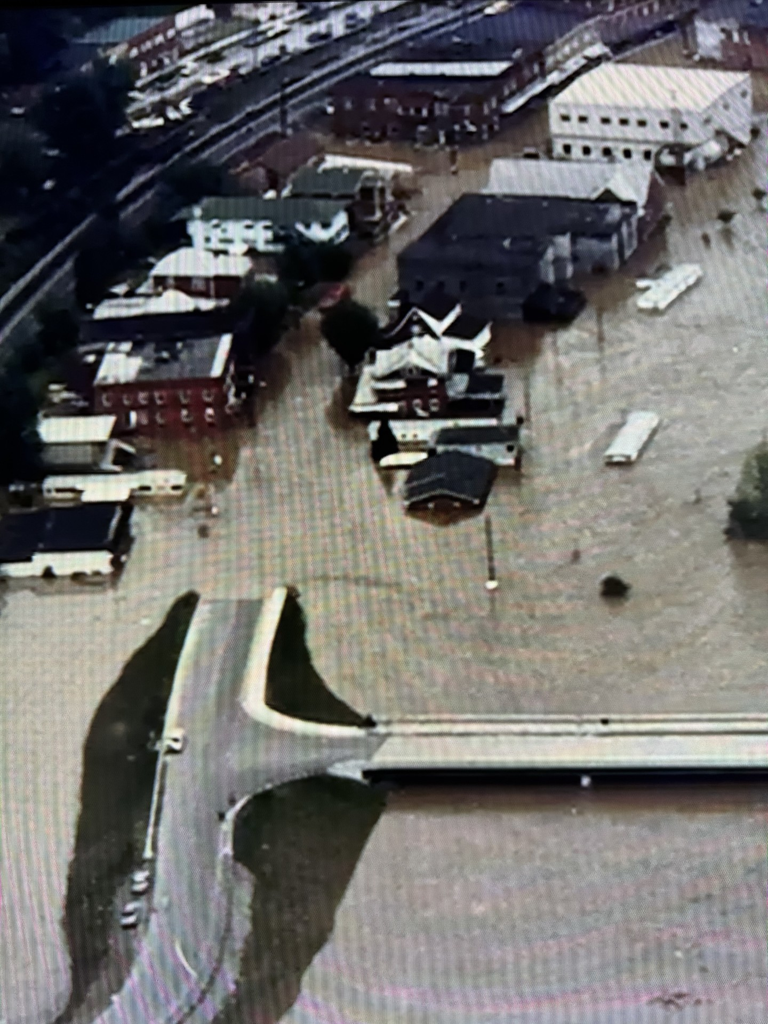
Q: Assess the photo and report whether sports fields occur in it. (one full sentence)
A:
No, I can see no sports field in this picture.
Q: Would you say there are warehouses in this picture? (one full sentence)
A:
Yes, a warehouse can be made out from above.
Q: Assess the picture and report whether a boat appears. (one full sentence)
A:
No, no boat is visible in the scene.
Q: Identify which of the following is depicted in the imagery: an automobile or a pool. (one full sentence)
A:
Of the two, only an automobile appears.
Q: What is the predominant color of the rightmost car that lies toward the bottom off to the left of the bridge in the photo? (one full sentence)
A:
The color of the rightmost car that lies toward the bottom off to the left of the bridge is white.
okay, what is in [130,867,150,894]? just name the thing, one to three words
car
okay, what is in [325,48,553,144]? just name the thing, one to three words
building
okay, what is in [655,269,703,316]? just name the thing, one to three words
trailer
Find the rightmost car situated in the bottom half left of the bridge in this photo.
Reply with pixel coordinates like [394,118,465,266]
[163,729,184,755]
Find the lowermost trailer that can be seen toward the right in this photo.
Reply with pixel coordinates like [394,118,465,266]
[605,412,660,466]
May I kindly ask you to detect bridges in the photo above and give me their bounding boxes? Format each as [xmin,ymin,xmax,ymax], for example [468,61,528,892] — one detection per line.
[326,713,768,794]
